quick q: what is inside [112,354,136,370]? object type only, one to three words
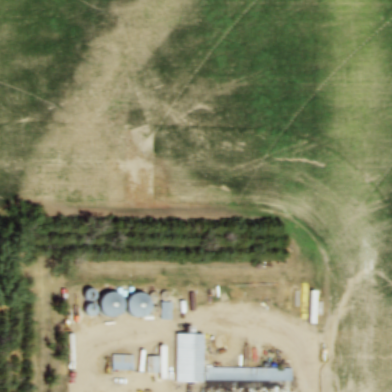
shed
